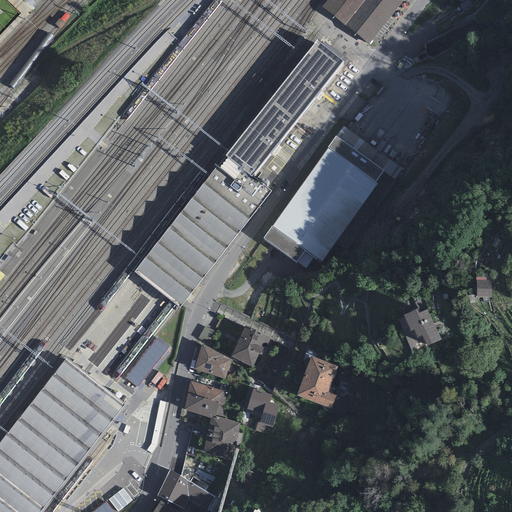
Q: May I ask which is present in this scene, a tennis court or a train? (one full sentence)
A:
The one in the frame is a train.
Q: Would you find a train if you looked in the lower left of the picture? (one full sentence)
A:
Yes, the scene does show a train in the lower left of the picture.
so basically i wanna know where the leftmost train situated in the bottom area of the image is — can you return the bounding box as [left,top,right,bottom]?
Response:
[0,342,44,404]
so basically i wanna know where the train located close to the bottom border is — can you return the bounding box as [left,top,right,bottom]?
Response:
[43,456,93,512]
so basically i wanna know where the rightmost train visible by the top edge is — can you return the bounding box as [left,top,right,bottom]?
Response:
[118,0,222,124]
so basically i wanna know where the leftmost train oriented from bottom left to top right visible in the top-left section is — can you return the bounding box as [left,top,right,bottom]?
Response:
[8,32,56,89]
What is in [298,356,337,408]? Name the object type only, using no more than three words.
house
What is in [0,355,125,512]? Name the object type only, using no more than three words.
building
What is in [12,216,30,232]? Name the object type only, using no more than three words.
vehicle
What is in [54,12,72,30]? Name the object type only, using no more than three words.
rail car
